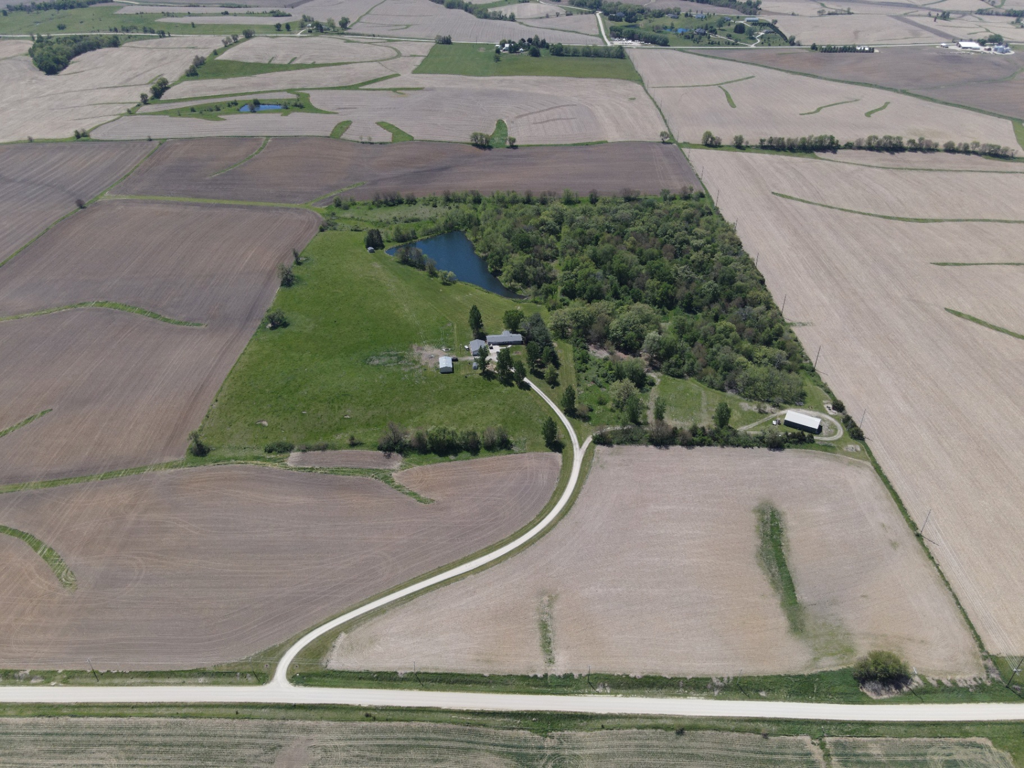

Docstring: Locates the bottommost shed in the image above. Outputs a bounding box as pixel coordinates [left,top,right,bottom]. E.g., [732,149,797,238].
[784,409,823,434]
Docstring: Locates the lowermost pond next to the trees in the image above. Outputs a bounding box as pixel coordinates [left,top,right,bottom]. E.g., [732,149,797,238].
[386,231,527,299]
